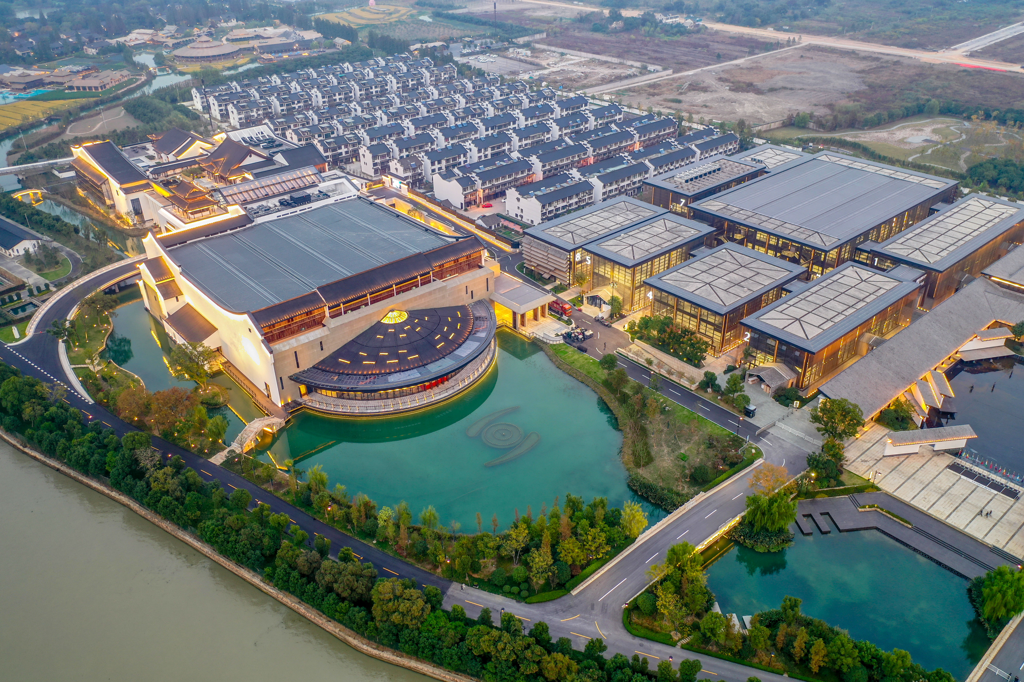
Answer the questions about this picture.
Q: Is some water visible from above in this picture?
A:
Yes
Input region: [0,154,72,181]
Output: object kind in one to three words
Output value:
bridge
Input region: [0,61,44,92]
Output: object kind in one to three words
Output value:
house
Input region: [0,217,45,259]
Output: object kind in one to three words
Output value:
building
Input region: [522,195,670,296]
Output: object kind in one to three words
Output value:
building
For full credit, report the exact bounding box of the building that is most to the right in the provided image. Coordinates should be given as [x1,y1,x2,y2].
[980,253,1024,303]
